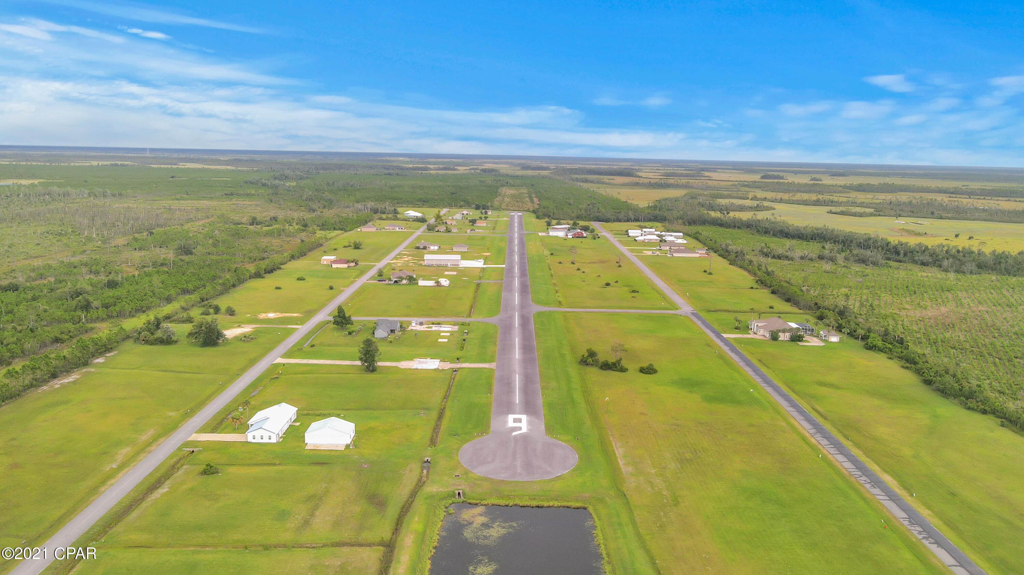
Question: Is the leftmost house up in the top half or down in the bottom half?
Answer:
bottom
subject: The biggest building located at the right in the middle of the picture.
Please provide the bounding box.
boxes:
[745,320,803,341]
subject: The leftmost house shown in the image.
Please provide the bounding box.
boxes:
[245,403,299,444]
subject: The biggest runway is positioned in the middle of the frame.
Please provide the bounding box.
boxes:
[490,214,545,435]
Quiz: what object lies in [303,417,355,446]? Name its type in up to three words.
hangar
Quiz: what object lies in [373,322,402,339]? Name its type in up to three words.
house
